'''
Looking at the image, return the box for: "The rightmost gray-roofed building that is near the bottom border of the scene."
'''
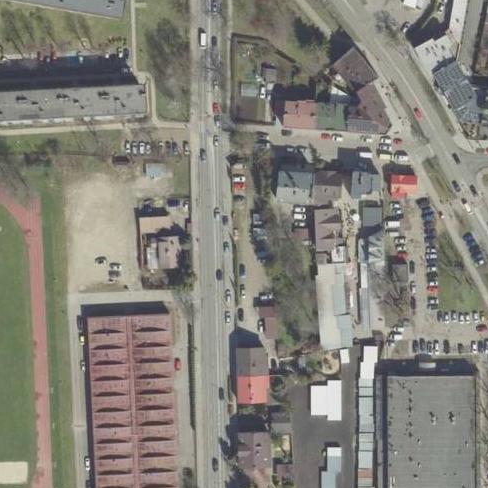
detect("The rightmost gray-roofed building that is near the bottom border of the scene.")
[387,376,476,488]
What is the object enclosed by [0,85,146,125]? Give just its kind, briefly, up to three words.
building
